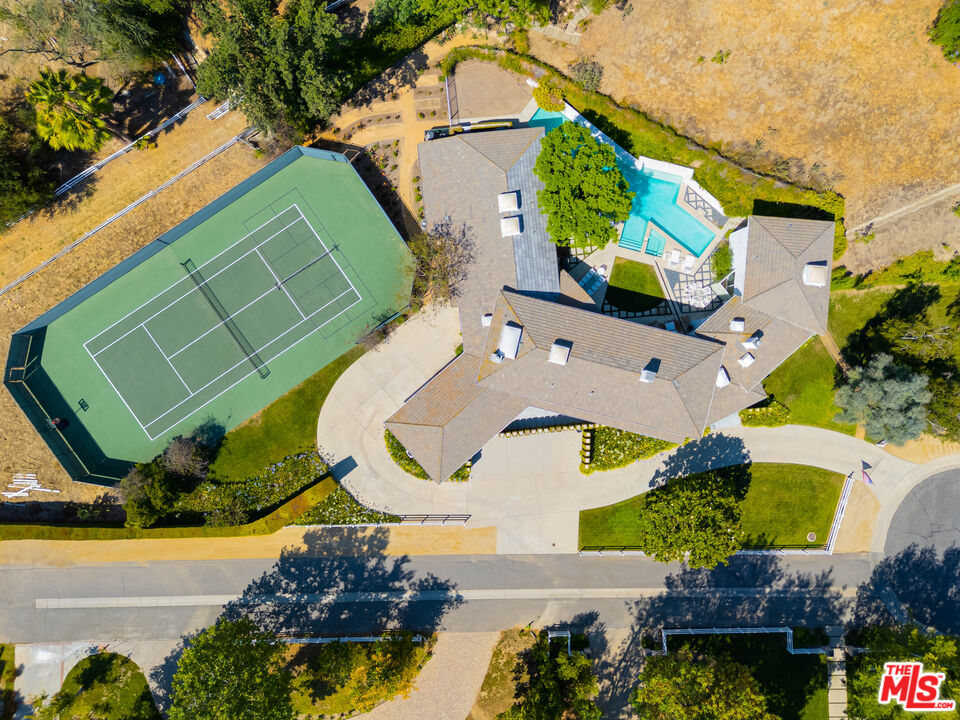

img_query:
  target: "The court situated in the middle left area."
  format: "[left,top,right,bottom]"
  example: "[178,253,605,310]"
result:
[22,156,418,483]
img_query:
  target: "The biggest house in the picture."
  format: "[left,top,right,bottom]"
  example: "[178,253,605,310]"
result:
[384,128,835,485]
